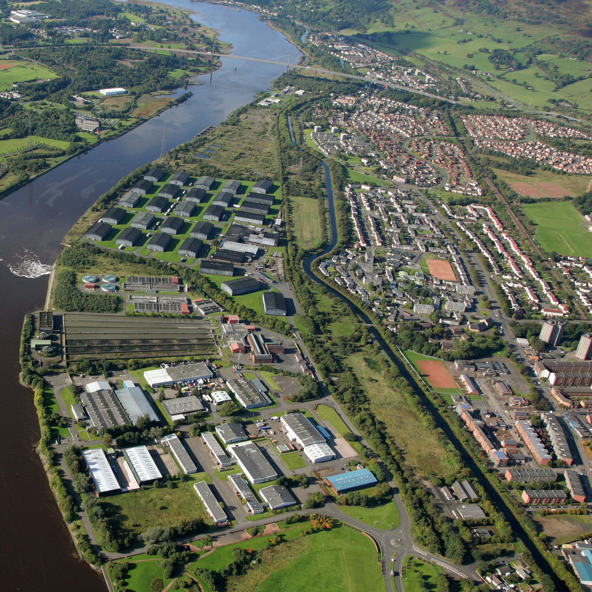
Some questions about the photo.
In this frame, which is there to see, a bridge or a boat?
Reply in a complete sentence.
Of the two, only a bridge appears.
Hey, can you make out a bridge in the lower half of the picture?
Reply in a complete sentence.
No, no bridge is visible in the lower half of the picture.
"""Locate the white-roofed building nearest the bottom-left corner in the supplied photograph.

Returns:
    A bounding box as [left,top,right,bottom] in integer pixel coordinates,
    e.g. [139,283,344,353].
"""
[85,448,121,496]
